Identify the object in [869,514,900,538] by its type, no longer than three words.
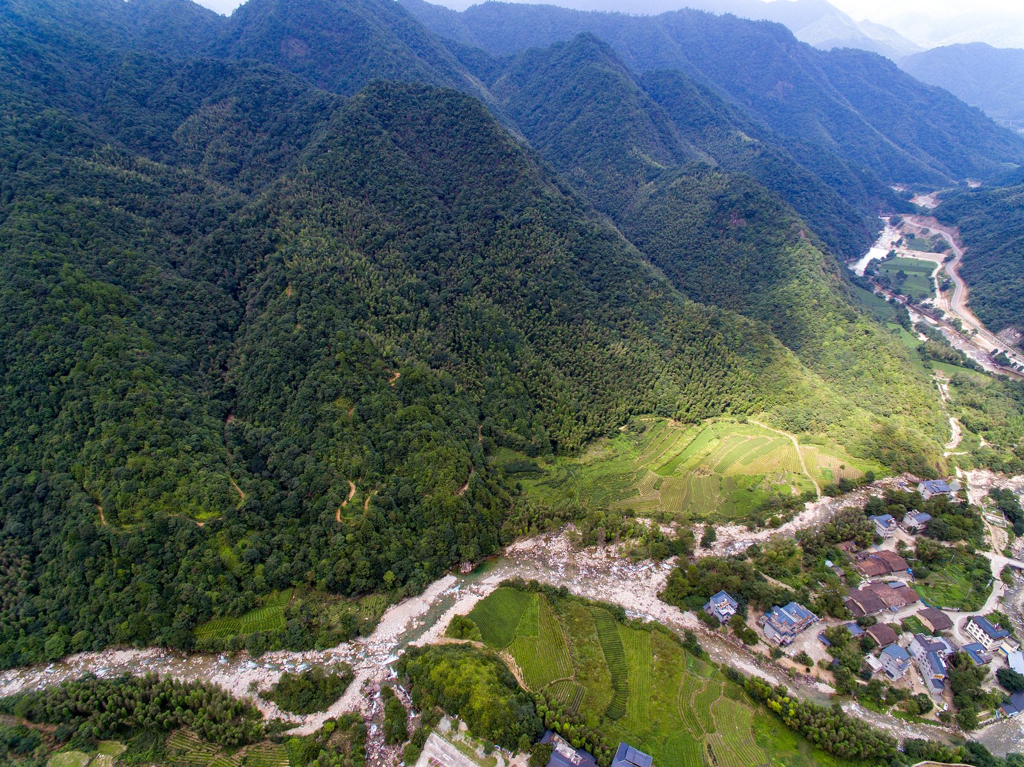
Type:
house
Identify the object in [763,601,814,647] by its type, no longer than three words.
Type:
house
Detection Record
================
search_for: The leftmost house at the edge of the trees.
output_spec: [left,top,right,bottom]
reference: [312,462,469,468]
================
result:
[532,726,596,767]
